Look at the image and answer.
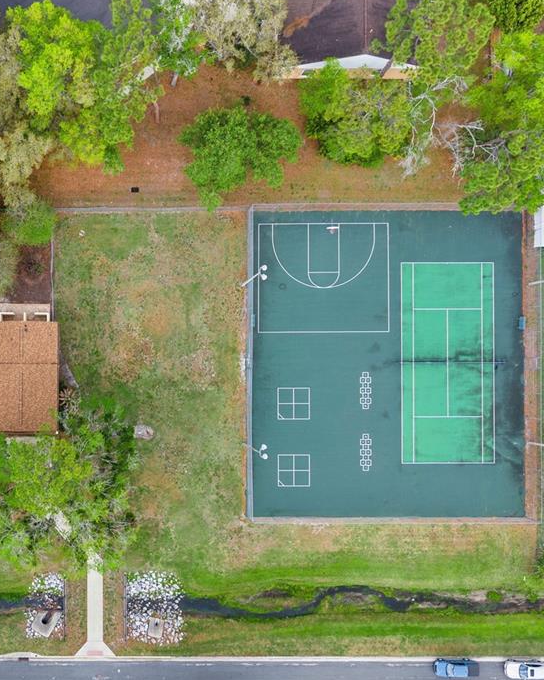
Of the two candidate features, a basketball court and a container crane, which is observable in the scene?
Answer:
basketball court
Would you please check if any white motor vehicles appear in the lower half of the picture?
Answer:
Yes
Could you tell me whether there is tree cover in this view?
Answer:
Yes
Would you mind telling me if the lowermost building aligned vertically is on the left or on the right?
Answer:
left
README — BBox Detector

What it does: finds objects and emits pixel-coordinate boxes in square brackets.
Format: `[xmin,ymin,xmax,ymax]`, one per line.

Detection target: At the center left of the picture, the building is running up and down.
[0,312,60,437]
